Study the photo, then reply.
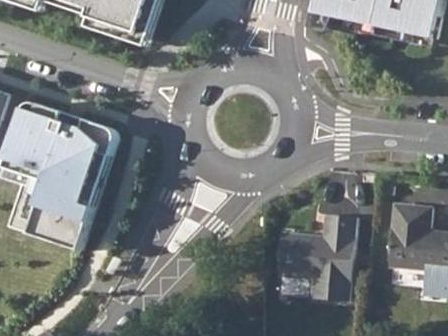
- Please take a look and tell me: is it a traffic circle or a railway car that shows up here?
traffic circle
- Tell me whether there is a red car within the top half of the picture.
No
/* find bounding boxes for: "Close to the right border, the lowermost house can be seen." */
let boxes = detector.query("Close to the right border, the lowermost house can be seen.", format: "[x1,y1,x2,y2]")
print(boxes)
[389,216,448,306]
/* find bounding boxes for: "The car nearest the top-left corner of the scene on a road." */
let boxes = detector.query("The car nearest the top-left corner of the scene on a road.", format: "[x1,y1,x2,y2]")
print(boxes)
[26,62,49,76]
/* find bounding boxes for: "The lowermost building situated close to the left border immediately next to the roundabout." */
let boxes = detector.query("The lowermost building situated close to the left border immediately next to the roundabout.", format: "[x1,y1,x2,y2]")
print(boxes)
[0,103,118,251]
